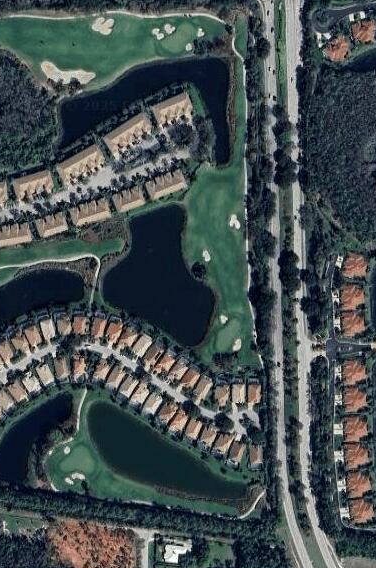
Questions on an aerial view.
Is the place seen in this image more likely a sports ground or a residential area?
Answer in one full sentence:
What you see here is a residential area.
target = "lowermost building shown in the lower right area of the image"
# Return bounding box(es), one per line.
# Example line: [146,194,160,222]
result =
[350,496,375,523]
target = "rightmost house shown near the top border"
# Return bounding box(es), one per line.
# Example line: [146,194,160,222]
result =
[351,18,375,42]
